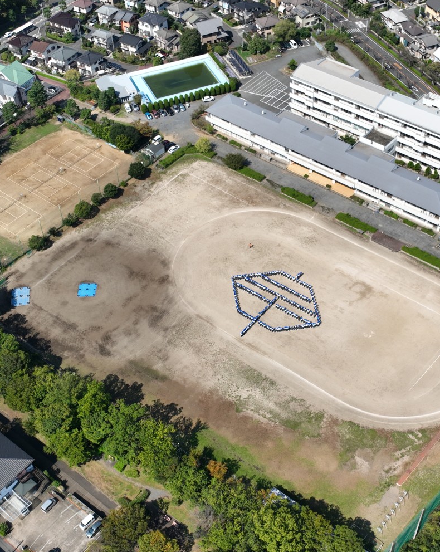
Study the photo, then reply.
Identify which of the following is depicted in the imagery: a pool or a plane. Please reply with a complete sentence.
This aerial view contains a pool.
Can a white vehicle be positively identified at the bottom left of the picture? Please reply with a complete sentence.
Yes, you'll find a white vehicle at the bottom left of the picture.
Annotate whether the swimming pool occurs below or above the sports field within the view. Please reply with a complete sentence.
The swimming pool is above the sports field.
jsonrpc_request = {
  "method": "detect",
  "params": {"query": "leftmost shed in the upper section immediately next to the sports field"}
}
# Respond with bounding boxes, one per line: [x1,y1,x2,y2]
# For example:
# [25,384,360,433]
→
[143,138,172,161]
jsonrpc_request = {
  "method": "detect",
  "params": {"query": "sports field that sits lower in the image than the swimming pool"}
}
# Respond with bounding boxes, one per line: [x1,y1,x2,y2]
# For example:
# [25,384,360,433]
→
[0,154,440,552]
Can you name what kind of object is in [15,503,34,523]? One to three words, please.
vehicle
